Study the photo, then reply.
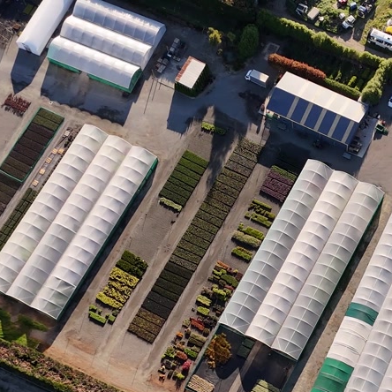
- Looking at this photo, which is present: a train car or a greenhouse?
greenhouse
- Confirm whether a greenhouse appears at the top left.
Yes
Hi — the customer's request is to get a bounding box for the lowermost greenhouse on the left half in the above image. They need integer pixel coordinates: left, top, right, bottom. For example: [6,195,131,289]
[0,125,158,321]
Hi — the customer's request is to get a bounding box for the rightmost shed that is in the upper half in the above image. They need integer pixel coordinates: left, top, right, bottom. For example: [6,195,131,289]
[263,71,370,152]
